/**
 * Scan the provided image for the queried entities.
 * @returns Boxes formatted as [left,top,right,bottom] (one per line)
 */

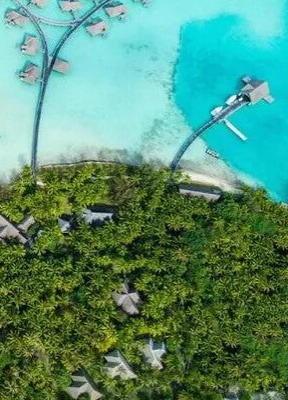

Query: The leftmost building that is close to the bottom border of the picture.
[67,372,97,400]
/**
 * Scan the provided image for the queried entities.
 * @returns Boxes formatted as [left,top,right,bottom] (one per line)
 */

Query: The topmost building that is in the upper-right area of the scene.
[238,75,269,103]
